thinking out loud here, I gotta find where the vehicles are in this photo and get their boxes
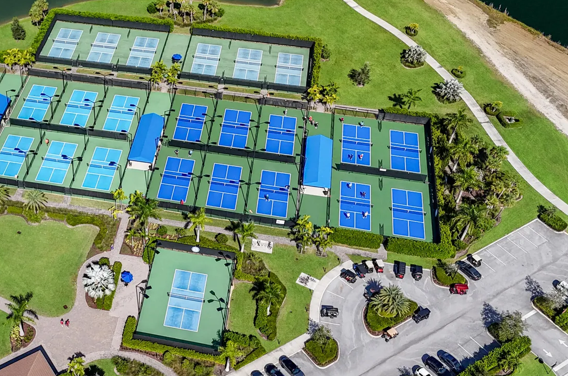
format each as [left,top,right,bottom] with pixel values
[280,357,303,376]
[352,264,366,278]
[458,261,482,281]
[265,364,283,376]
[374,258,385,273]
[555,281,568,294]
[340,270,356,284]
[413,366,433,376]
[468,253,484,268]
[382,326,399,341]
[436,353,460,371]
[413,305,431,321]
[412,266,422,279]
[321,305,338,318]
[363,281,382,299]
[363,258,375,273]
[450,281,470,296]
[422,355,449,376]
[394,261,406,278]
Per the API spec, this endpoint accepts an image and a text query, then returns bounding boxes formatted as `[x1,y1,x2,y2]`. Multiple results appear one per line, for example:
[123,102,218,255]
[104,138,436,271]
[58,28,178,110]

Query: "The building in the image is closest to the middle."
[301,135,333,199]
